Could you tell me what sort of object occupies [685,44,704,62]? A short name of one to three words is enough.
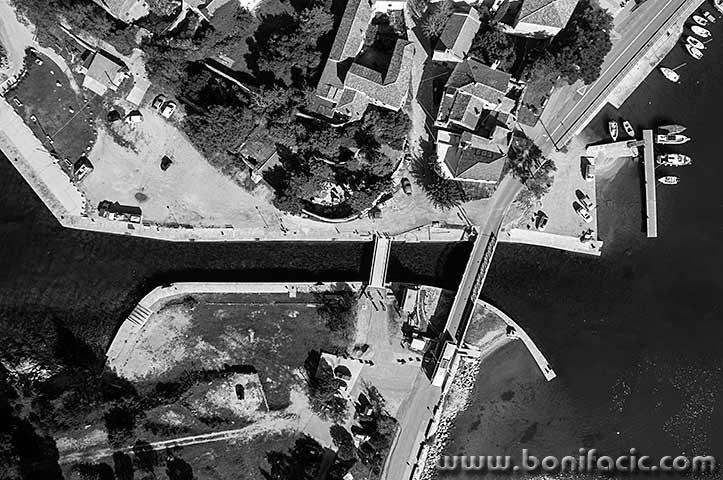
boat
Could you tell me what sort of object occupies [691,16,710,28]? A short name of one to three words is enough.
boat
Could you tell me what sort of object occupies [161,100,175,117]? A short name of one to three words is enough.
car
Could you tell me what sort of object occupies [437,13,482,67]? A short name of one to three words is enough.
house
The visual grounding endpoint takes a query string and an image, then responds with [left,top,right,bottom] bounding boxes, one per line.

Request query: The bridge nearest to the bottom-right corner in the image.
[438,213,503,350]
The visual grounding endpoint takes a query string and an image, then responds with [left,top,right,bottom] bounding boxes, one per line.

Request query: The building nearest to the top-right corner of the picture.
[514,0,578,37]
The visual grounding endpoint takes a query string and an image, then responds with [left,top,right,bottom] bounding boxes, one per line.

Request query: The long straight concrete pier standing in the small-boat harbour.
[640,130,657,237]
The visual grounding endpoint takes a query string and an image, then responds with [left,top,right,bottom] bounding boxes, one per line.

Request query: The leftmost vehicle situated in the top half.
[70,164,93,182]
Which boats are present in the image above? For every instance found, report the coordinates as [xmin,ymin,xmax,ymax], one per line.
[658,125,687,133]
[659,66,681,83]
[609,119,618,141]
[691,16,710,28]
[691,26,712,39]
[685,44,704,62]
[659,176,681,184]
[686,35,705,52]
[708,0,723,16]
[655,134,691,143]
[622,120,633,136]
[656,153,692,166]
